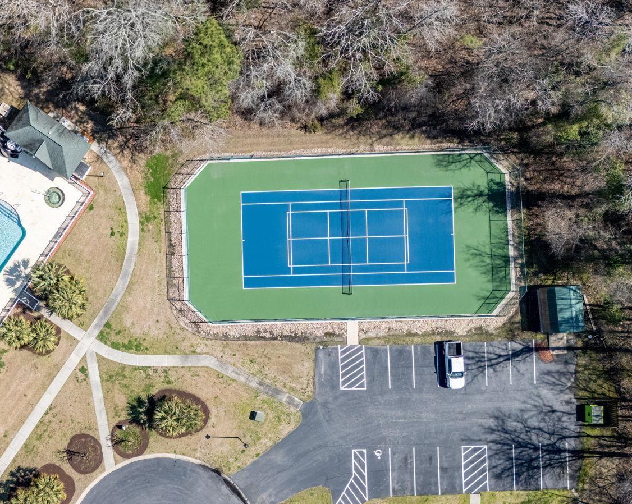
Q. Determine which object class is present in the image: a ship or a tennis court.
tennis court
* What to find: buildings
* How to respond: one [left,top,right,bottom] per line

[4,101,91,178]
[538,286,586,332]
